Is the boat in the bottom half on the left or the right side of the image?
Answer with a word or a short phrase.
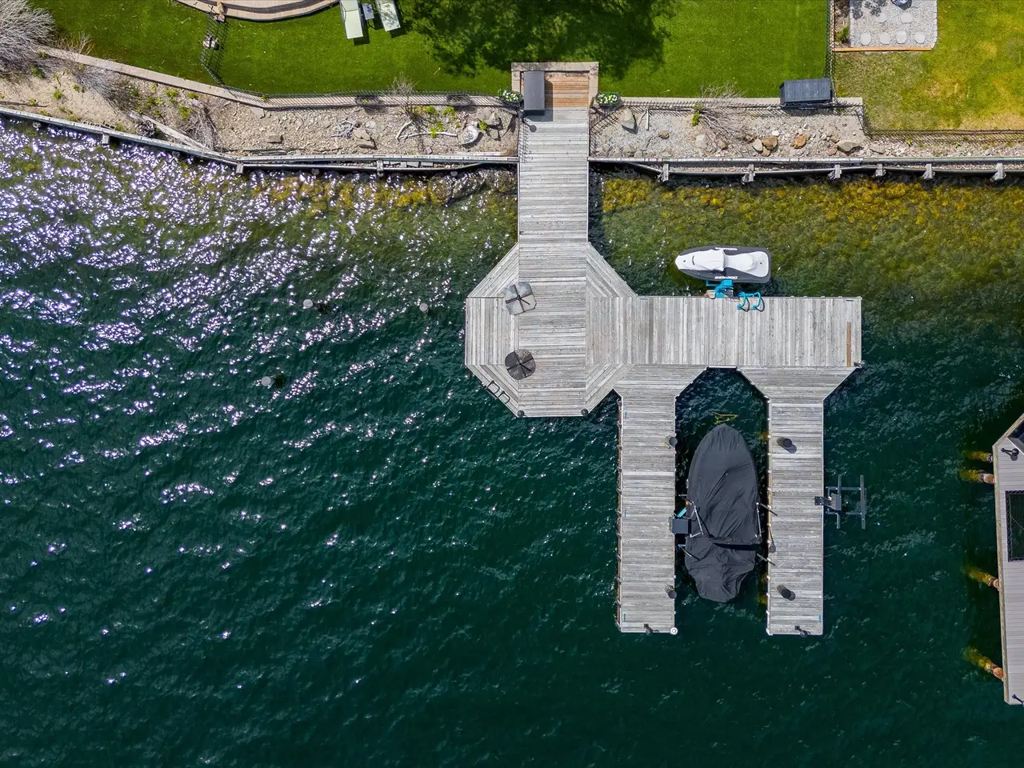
right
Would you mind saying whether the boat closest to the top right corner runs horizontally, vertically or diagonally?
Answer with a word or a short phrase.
horizontally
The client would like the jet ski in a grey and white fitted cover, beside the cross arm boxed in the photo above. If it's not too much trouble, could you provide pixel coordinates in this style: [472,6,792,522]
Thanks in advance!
[673,246,771,284]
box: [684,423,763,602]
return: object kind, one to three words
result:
boat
